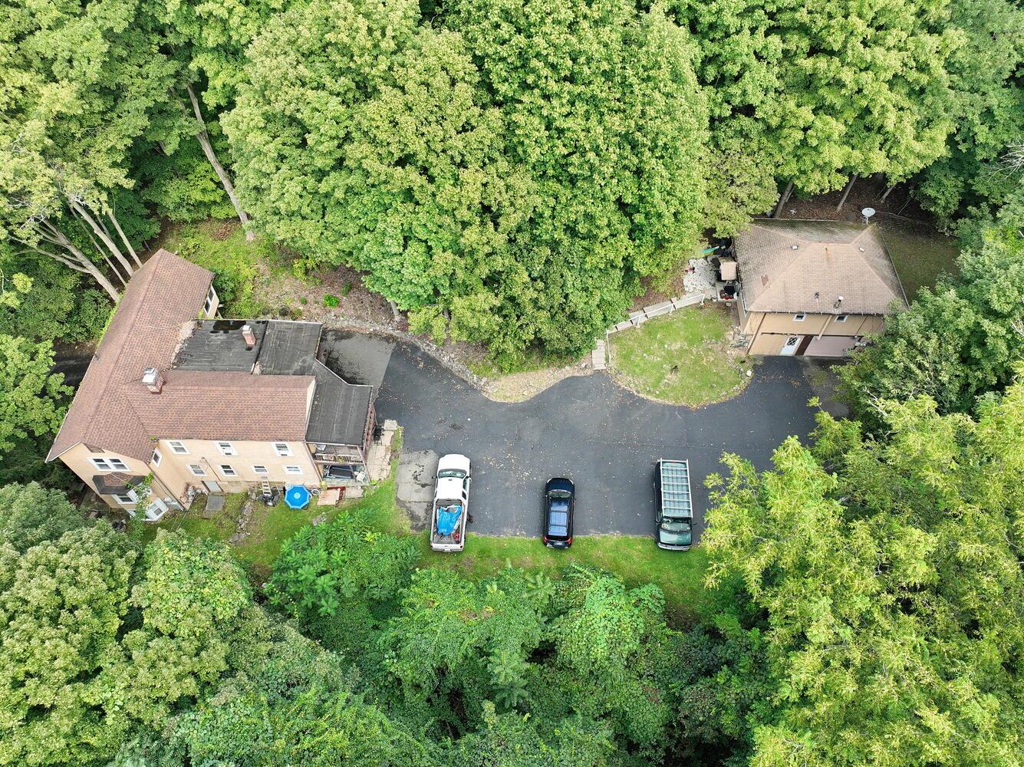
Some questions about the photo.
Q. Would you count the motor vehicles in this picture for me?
3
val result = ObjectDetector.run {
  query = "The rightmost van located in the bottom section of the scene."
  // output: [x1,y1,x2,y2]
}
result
[653,458,699,552]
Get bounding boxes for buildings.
[727,219,910,358]
[47,249,393,528]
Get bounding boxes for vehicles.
[430,455,472,552]
[542,480,579,548]
[653,458,699,552]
